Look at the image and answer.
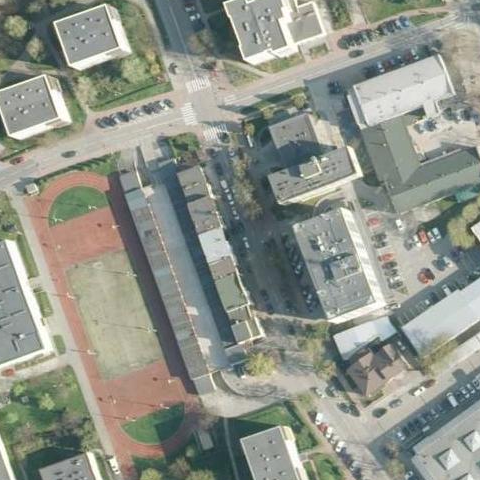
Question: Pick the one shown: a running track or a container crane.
running track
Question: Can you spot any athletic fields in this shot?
Yes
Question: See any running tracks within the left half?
Yes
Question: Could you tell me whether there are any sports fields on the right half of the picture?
No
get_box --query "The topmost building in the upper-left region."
[54,4,130,70]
